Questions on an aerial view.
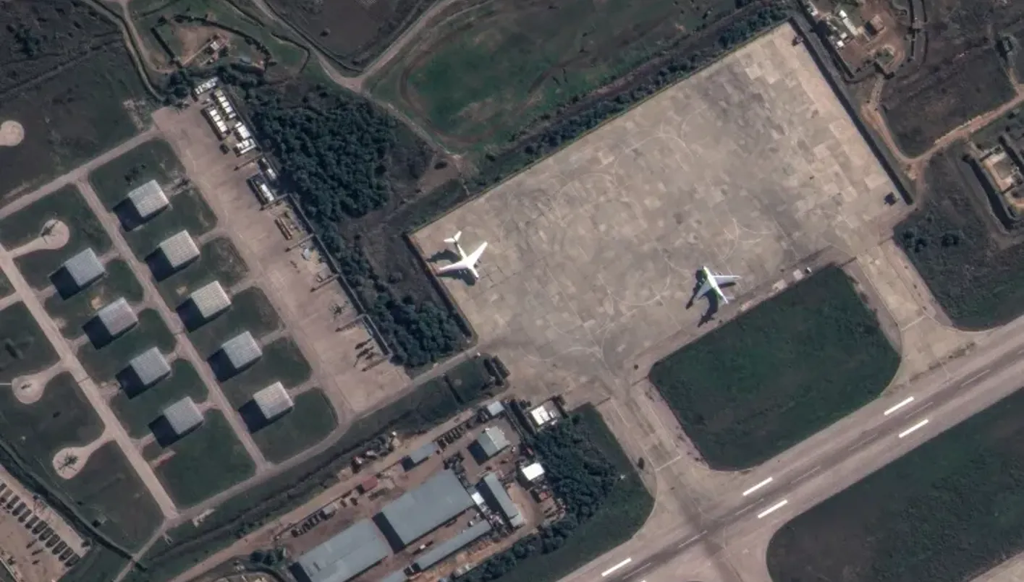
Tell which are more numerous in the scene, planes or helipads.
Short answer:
helipads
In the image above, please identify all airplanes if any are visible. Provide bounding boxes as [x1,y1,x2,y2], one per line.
[695,267,742,310]
[441,230,488,277]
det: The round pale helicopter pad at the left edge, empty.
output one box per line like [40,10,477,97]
[0,119,24,147]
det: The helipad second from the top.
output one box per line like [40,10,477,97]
[7,221,69,260]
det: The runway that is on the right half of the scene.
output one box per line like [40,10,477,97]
[560,316,1024,582]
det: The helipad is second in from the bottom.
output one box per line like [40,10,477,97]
[13,354,74,403]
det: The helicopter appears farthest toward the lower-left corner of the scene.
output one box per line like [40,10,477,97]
[56,448,82,471]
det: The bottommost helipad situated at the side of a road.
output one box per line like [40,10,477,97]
[52,426,117,476]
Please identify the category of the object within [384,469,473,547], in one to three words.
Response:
building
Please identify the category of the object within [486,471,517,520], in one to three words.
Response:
shed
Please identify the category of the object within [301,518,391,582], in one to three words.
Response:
building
